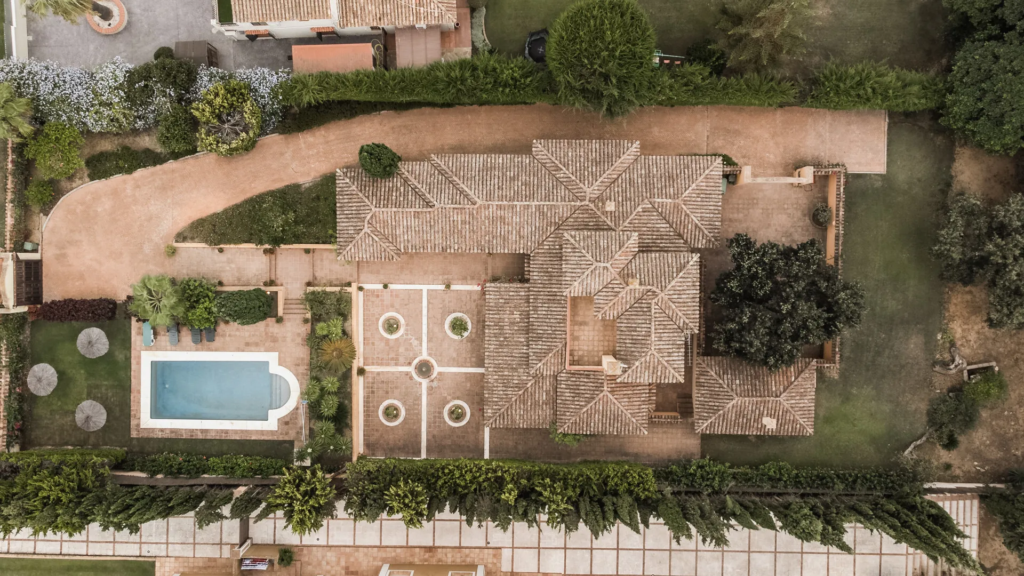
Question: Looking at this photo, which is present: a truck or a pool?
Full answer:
This aerial view contains a pool.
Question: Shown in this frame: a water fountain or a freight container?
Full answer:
Visible in the photo is a water fountain.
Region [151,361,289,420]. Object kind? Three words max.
swimming pool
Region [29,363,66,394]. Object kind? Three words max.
umbrella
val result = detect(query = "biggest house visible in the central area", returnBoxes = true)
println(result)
[335,138,724,435]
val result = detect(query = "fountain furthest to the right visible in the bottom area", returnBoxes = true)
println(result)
[411,356,438,383]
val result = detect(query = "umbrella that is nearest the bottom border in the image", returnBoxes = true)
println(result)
[77,399,112,431]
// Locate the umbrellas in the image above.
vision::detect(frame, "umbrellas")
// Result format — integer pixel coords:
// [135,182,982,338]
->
[29,363,66,394]
[77,399,112,431]
[78,325,114,359]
